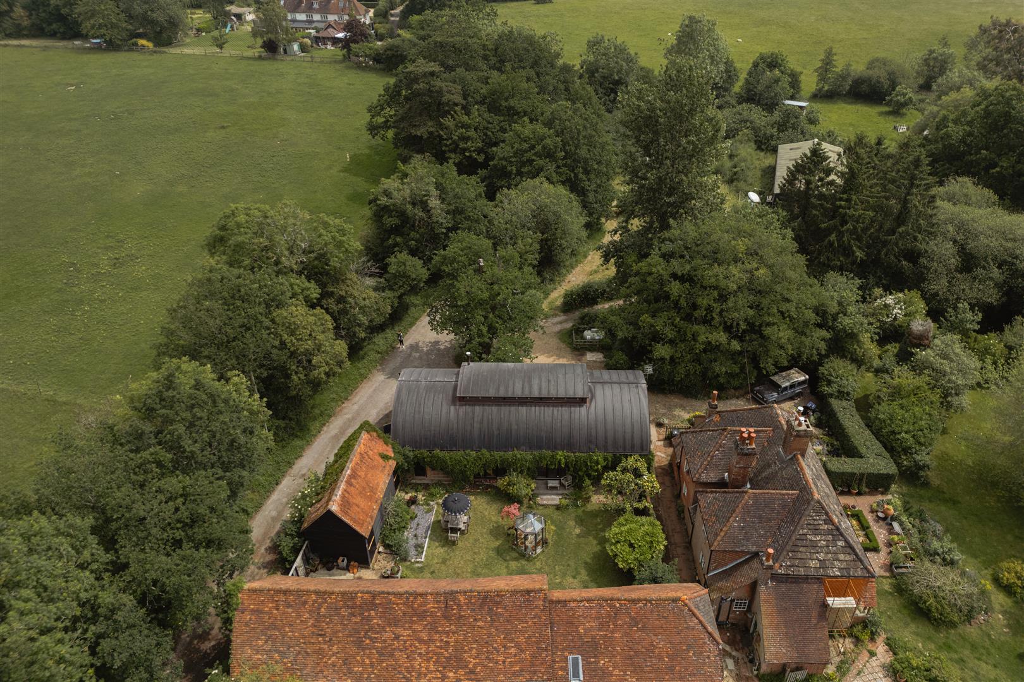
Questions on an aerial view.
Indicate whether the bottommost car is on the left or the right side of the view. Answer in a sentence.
The bottommost car is on the right side of the image.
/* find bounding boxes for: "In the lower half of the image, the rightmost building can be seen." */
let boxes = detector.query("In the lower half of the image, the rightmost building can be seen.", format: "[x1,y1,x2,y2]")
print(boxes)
[665,385,881,682]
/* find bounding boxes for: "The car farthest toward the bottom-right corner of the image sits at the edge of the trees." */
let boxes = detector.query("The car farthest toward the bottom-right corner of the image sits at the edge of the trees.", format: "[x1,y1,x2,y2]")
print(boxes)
[755,366,813,404]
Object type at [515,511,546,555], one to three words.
greenhouse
